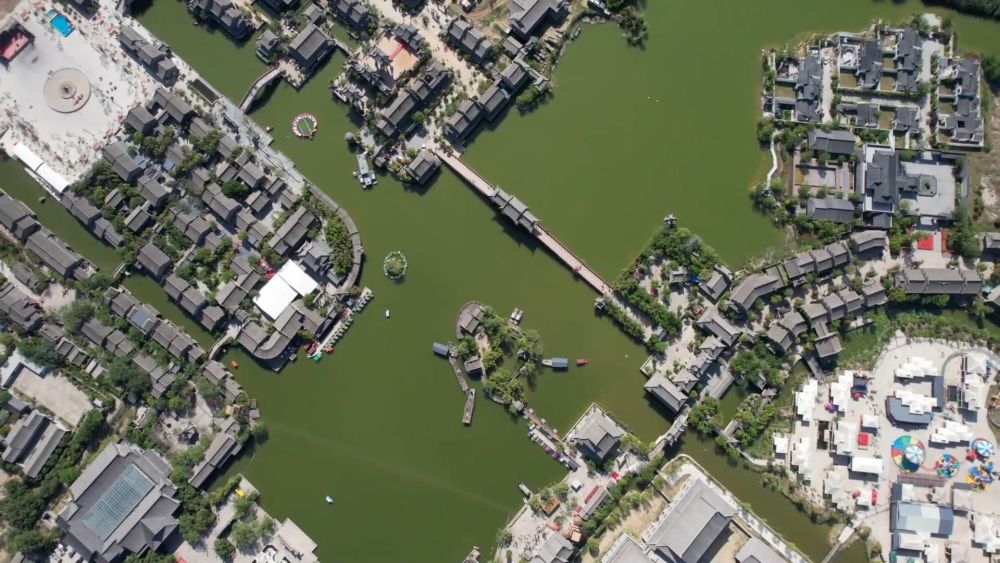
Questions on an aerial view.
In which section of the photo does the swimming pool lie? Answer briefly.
top left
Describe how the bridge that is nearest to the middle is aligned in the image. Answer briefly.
on a diagonal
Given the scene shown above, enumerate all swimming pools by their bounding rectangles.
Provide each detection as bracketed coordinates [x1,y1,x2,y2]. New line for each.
[48,12,76,38]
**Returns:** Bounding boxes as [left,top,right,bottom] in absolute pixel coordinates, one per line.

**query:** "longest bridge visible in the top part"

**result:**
[438,147,609,293]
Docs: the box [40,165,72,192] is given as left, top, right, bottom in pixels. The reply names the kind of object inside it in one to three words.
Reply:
tent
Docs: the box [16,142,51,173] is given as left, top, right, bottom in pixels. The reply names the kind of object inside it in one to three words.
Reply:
tent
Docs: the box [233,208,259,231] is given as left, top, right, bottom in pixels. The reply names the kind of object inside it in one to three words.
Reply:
house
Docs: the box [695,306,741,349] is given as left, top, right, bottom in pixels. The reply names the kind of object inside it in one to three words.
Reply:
building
